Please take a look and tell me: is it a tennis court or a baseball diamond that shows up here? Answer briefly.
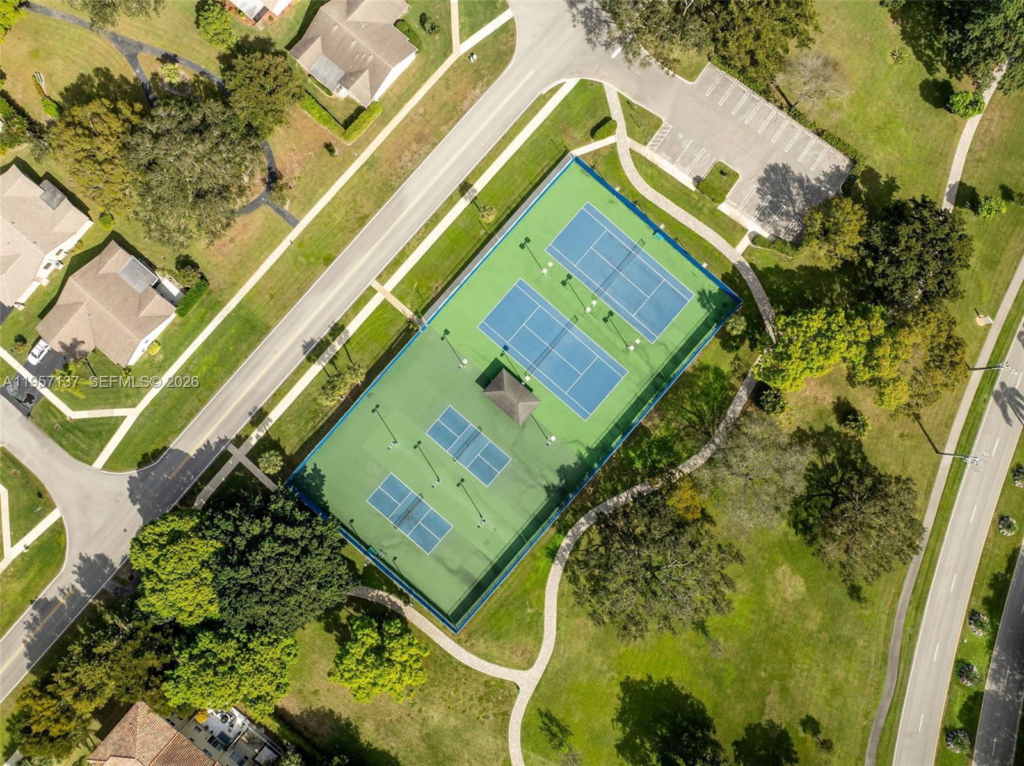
tennis court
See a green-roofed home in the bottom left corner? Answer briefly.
No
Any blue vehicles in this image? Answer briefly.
No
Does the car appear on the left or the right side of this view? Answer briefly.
left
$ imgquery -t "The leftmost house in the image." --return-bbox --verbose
[0,164,96,306]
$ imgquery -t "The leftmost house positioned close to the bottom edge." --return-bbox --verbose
[89,694,252,766]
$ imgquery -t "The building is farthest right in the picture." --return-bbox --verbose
[483,368,541,425]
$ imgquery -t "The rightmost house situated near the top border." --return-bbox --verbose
[291,0,418,108]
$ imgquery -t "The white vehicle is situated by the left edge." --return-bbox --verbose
[28,338,53,367]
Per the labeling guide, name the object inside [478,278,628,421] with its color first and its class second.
blue tennis court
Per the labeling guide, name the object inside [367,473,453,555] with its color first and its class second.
blue sports court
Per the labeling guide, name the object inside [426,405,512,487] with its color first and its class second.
blue sports court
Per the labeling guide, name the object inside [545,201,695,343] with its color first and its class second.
blue tennis court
